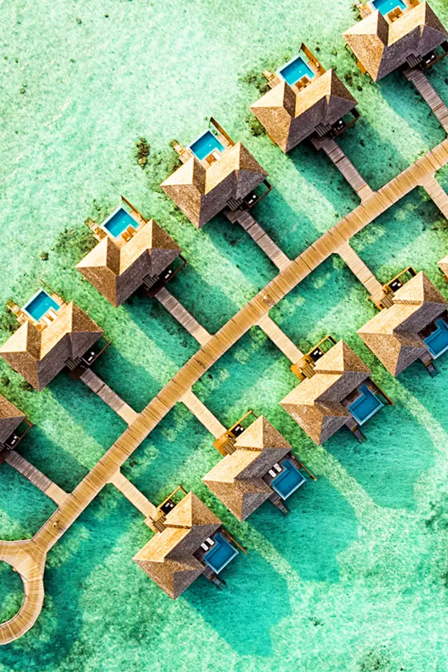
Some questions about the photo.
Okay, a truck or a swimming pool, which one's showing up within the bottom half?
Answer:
swimming pool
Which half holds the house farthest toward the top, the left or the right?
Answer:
right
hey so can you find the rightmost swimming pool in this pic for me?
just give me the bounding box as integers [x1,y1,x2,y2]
[422,319,448,359]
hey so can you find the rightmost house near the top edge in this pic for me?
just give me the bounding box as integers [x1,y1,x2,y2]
[343,0,448,91]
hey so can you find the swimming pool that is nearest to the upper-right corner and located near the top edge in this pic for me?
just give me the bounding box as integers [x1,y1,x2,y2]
[366,0,408,19]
